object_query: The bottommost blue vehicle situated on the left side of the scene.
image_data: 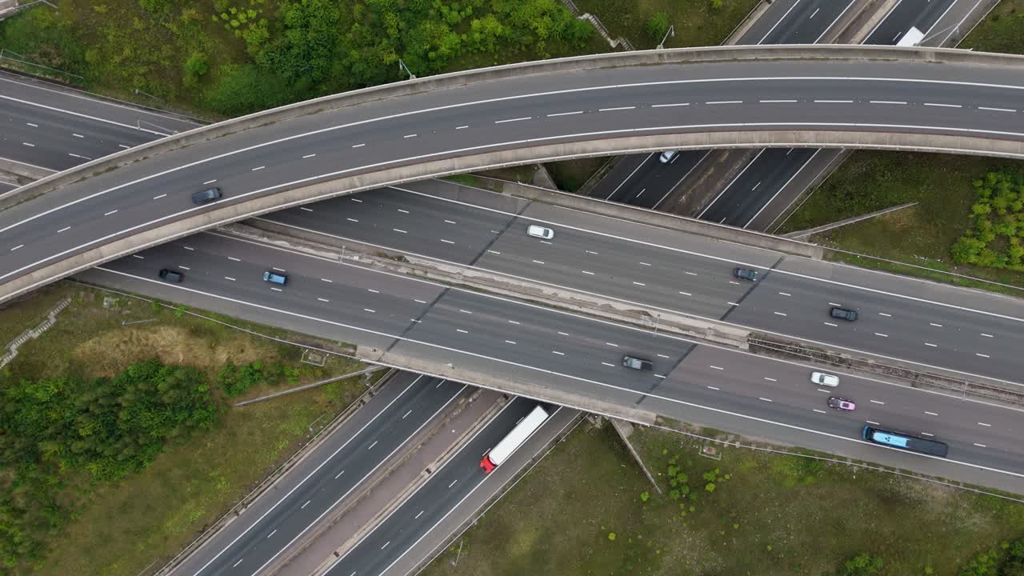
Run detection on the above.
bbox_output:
[263,271,288,284]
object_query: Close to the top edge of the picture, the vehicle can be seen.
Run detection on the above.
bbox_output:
[891,27,924,47]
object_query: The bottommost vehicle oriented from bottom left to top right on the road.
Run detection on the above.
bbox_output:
[477,402,549,474]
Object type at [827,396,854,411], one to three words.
car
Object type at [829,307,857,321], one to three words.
car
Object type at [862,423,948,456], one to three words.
bus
